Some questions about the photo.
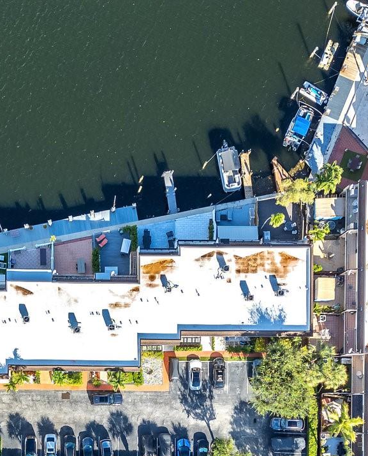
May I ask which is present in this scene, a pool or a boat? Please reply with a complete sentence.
I can see a boat in this picture.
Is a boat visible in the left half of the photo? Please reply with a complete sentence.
No, looking in the left half of the photo, there is no boat.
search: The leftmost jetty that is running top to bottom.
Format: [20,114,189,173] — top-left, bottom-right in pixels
[160,170,180,215]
